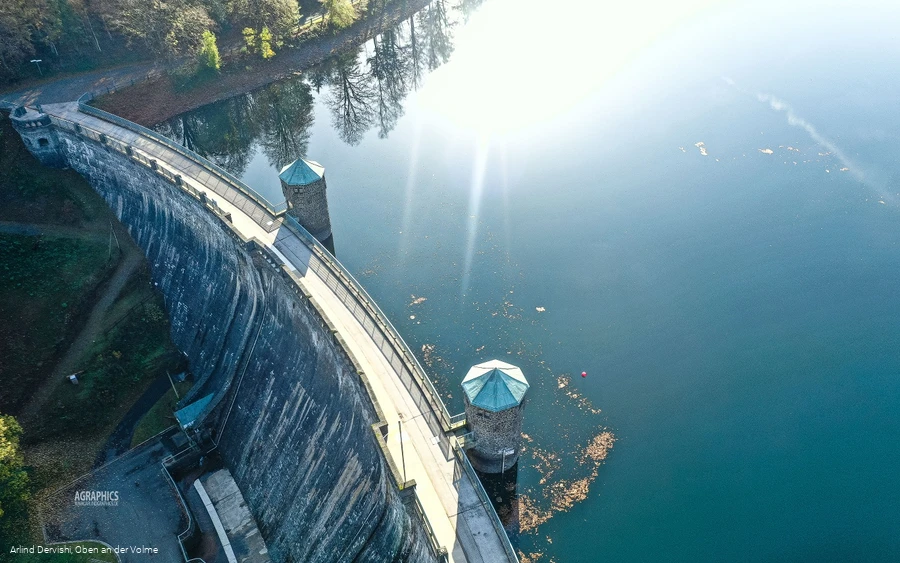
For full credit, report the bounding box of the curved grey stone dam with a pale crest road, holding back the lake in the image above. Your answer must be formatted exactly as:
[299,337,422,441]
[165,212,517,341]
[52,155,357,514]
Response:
[33,86,522,563]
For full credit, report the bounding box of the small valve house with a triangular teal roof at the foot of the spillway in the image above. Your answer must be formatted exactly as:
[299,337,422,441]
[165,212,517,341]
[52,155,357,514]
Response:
[172,392,214,433]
